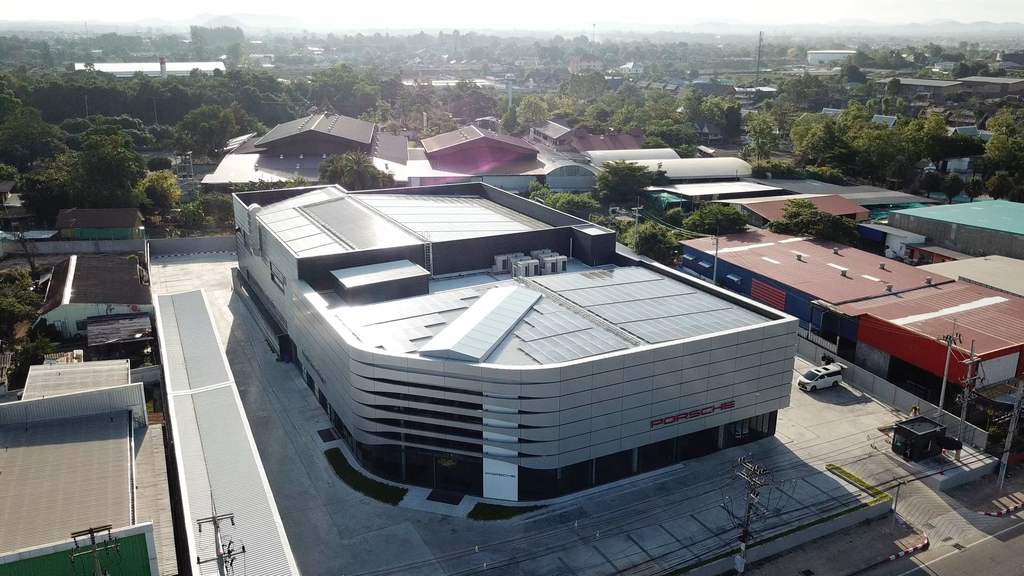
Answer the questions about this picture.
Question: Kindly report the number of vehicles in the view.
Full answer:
Altogether the scene contains 1 vehicle.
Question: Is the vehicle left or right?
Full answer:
It is on the right.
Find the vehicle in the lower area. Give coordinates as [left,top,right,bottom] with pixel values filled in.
[796,362,846,391]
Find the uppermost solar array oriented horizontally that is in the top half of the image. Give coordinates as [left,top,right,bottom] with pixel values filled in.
[358,194,551,240]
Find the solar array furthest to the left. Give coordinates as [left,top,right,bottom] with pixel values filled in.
[251,195,344,256]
